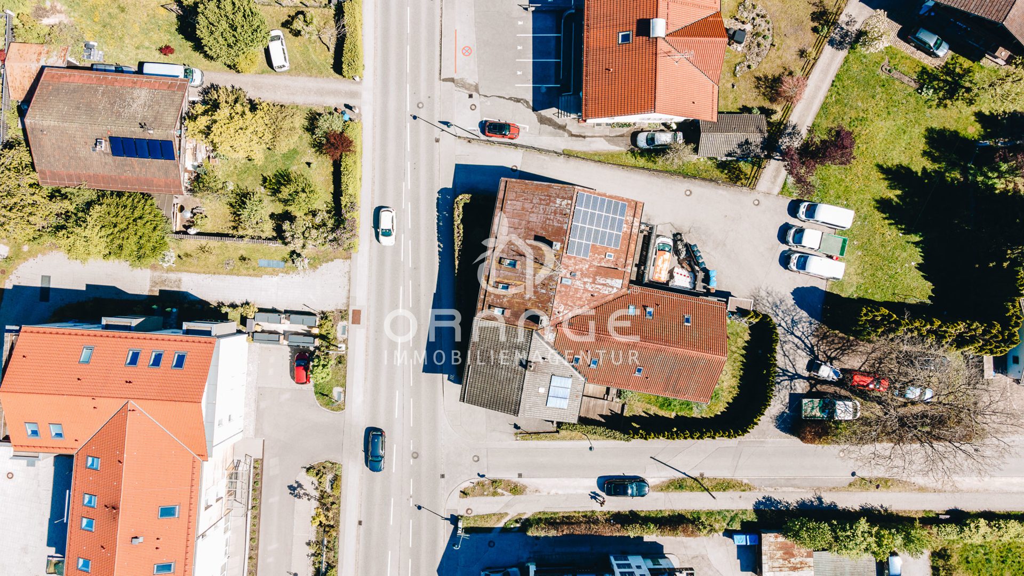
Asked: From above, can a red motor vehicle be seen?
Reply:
Yes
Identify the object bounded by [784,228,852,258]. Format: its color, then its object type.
white truck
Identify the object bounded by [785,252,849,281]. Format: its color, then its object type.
white van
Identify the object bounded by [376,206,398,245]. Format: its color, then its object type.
white car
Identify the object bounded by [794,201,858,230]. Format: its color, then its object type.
white van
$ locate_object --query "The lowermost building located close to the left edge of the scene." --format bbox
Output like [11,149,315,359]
[0,317,248,576]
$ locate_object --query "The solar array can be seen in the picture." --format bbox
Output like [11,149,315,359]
[567,192,628,258]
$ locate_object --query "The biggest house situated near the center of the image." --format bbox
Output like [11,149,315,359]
[459,178,728,430]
